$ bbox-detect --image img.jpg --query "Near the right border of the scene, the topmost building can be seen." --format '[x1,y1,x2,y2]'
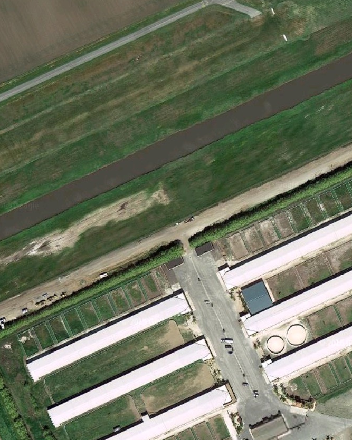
[218,211,352,289]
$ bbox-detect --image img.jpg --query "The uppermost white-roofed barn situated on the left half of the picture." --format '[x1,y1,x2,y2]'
[27,293,190,381]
